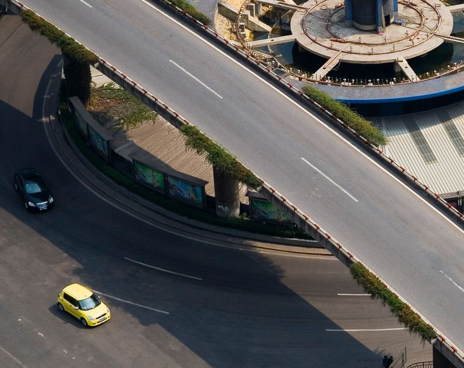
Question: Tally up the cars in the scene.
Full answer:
The photo contains 2 cars.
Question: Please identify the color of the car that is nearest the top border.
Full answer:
The car that is nearest the top border looks black in the image.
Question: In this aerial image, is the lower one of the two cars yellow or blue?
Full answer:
From above, the lower one of the two cars appears yellow.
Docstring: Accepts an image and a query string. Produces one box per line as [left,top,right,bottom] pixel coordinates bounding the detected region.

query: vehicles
[12,167,54,214]
[55,280,108,327]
